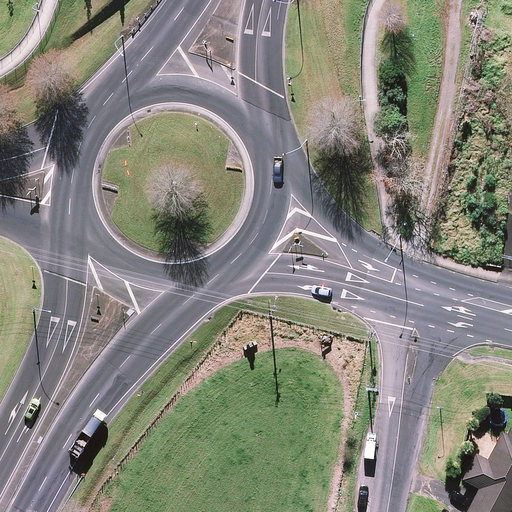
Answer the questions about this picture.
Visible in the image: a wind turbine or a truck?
truck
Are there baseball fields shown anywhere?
No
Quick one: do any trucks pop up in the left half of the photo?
Yes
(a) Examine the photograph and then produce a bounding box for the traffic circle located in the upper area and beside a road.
[93,102,254,264]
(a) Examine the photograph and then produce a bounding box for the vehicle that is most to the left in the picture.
[26,396,41,418]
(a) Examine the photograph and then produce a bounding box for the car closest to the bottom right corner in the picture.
[450,490,471,510]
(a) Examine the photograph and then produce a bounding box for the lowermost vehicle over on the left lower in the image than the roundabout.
[68,410,107,460]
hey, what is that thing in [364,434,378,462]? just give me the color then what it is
white vehicle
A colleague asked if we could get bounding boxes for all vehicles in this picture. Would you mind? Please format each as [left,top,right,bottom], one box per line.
[311,286,332,296]
[272,158,283,184]
[358,486,368,508]
[450,490,471,510]
[68,410,107,460]
[364,434,378,462]
[26,396,41,418]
